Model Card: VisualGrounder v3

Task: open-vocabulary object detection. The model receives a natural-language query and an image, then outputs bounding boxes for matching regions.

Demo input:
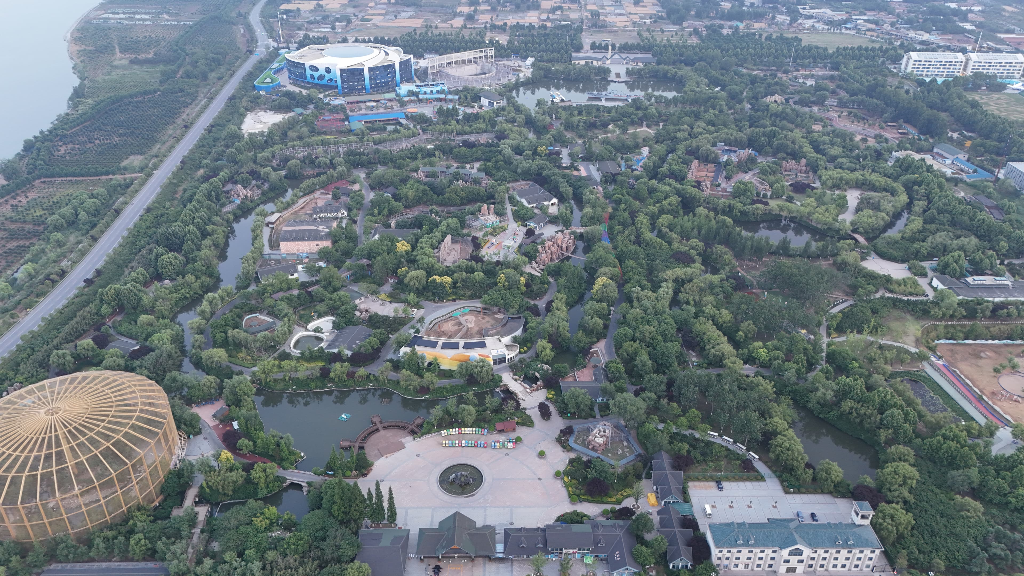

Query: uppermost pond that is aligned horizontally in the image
[509,78,684,113]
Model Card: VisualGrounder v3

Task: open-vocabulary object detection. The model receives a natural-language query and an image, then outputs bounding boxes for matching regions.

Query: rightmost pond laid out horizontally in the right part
[732,201,910,249]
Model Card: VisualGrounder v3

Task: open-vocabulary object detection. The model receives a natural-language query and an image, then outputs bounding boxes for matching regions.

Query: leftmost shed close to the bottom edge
[347,528,413,576]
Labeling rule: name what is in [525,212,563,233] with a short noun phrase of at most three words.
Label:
building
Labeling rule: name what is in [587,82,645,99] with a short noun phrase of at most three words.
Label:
ship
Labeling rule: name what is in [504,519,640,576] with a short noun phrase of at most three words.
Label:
building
